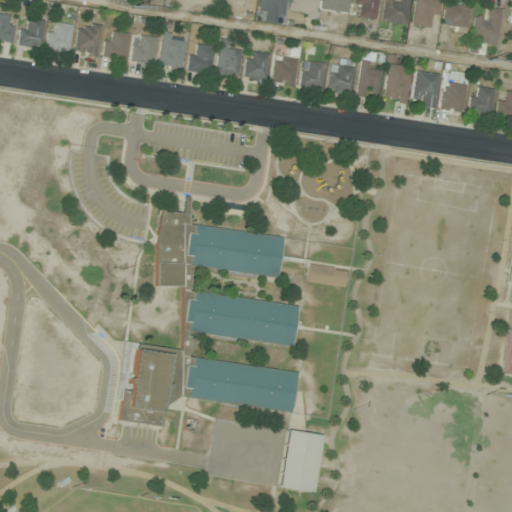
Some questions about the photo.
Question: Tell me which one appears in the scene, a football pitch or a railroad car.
football pitch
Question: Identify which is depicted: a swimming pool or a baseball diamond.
baseball diamond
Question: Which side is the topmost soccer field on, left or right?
right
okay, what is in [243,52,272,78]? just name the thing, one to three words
house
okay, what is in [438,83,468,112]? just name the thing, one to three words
house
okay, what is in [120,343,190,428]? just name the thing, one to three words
building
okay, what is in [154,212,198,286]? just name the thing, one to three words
building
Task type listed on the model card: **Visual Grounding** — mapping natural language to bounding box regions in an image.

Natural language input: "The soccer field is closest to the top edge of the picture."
[369,172,497,370]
